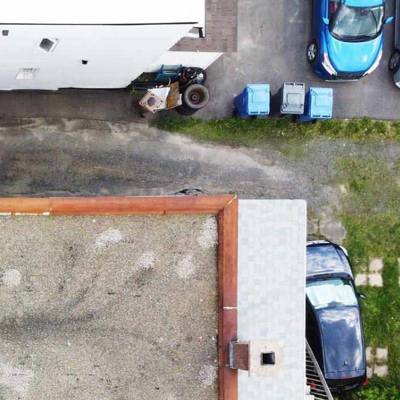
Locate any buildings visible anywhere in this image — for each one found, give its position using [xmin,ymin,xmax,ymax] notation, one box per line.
[0,196,307,400]
[0,0,237,89]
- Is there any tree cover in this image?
No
